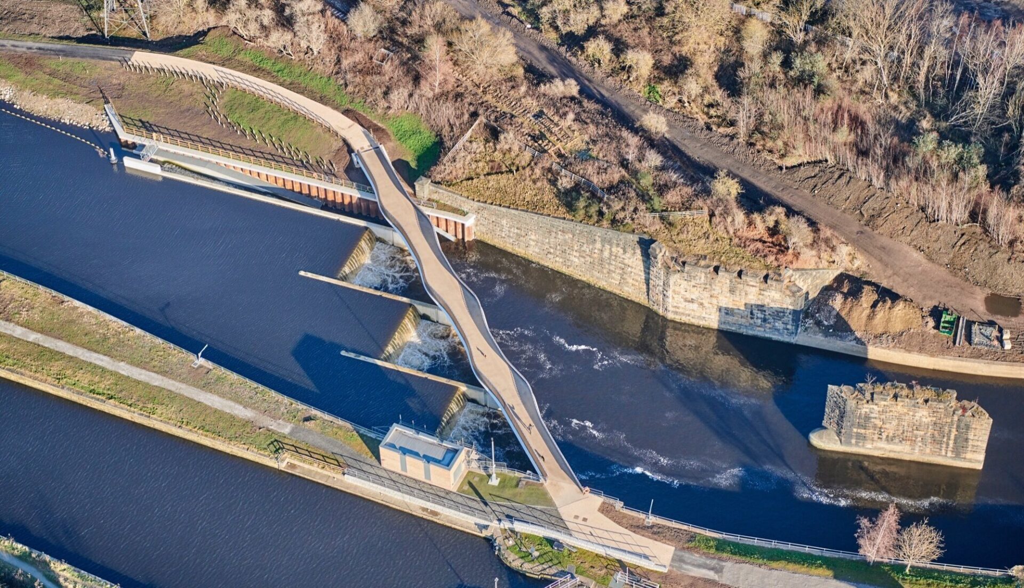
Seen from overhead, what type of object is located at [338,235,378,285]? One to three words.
dam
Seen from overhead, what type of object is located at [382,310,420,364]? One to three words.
dam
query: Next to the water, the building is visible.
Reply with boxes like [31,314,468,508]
[379,417,474,493]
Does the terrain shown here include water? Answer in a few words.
Yes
